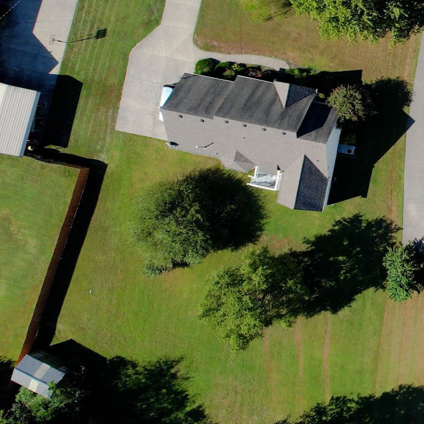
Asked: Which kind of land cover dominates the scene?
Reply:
grass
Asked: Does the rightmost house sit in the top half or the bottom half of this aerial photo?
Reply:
top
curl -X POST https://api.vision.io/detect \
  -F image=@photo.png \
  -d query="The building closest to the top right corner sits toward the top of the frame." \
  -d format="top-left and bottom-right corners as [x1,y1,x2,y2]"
[161,72,344,212]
